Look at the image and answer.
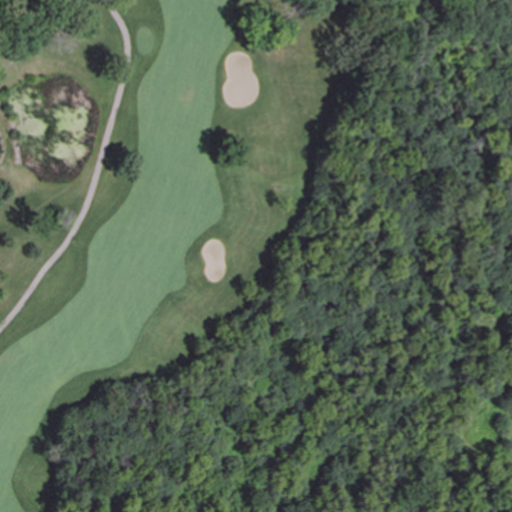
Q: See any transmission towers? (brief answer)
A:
No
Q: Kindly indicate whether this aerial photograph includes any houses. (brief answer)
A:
No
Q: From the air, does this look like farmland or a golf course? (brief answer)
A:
golf course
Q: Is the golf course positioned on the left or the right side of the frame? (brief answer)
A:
left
